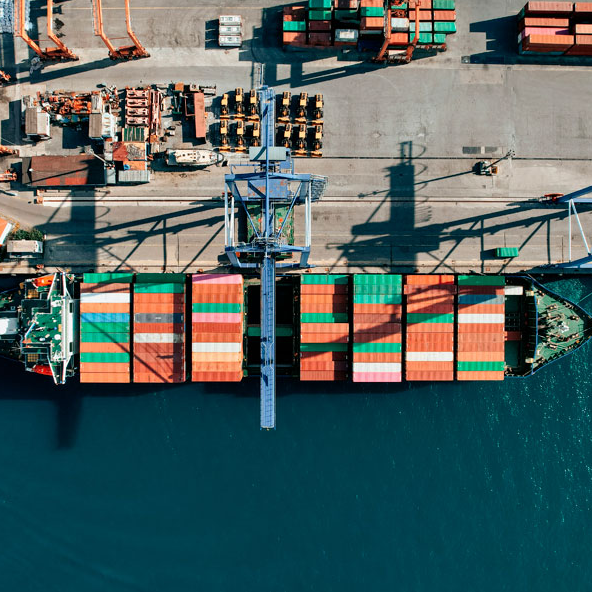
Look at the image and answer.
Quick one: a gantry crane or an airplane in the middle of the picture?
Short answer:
gantry crane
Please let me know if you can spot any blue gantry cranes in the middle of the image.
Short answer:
Yes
